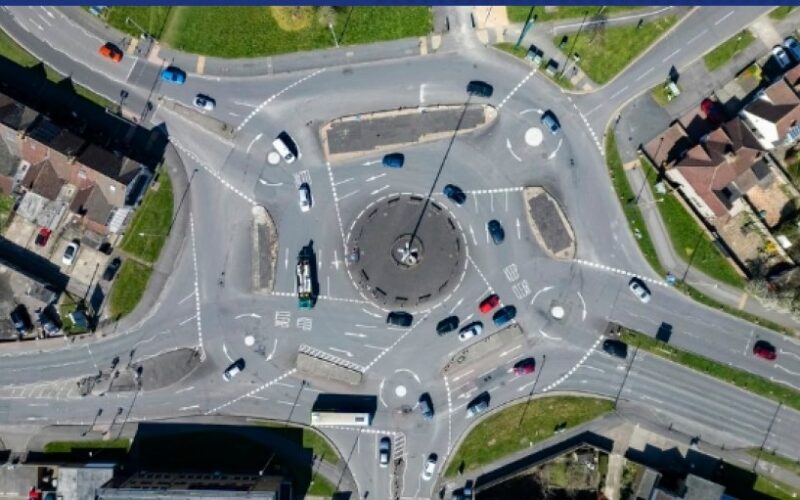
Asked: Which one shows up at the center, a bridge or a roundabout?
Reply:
roundabout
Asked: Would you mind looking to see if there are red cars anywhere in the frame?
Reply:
Yes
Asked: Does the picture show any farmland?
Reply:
No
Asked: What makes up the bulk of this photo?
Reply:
paved ground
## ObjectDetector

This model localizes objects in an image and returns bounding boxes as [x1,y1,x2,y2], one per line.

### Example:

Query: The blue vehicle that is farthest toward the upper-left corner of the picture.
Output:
[160,69,184,84]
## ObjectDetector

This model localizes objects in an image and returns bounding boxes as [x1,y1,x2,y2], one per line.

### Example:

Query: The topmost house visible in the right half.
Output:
[743,53,800,148]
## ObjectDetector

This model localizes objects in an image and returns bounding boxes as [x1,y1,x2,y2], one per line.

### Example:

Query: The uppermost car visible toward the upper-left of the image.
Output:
[97,42,122,61]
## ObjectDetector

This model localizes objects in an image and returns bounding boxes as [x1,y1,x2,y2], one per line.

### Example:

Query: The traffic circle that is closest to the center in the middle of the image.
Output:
[345,190,468,312]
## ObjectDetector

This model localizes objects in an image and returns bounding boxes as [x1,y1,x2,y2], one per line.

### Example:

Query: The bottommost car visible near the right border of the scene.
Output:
[754,345,780,360]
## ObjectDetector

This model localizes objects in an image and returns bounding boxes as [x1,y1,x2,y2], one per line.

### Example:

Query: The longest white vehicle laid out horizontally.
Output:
[311,408,371,427]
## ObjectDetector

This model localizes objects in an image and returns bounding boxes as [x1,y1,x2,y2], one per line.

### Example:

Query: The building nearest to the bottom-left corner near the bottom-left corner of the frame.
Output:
[52,464,120,500]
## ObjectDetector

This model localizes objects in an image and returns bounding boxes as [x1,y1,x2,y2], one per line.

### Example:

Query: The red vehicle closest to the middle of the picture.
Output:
[479,295,501,314]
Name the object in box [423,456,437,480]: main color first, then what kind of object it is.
white car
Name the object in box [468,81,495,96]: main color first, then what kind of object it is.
black car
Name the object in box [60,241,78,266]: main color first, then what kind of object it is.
white car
